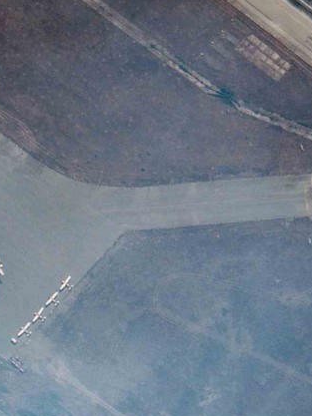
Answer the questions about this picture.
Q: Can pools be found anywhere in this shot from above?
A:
No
